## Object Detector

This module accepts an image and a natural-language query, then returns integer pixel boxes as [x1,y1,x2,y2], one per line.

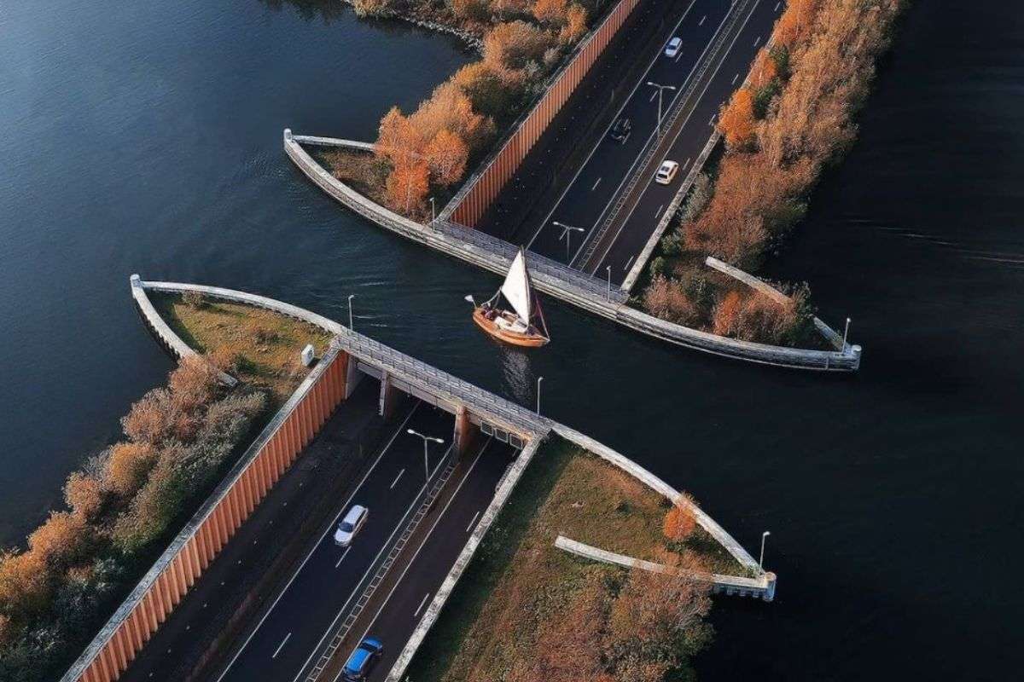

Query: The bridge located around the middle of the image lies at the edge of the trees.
[337,221,628,449]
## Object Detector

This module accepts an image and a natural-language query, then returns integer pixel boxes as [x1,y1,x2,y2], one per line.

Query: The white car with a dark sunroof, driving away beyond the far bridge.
[656,162,678,186]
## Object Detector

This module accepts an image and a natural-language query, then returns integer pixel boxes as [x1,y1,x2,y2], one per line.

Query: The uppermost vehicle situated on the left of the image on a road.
[334,507,367,548]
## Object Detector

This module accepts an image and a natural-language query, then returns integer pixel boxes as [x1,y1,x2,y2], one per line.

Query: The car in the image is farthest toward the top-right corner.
[665,39,683,57]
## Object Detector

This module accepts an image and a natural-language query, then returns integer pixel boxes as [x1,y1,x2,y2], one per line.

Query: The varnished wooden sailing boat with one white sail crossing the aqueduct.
[465,249,551,347]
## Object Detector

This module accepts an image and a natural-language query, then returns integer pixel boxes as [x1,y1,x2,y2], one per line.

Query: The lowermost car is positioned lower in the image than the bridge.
[343,638,379,682]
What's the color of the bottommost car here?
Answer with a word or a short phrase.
blue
